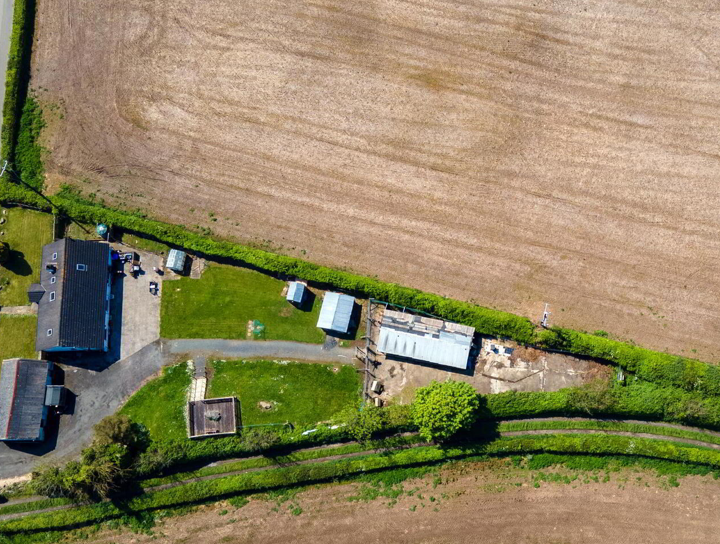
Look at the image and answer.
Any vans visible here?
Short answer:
No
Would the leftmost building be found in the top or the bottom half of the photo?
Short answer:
bottom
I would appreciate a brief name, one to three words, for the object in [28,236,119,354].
house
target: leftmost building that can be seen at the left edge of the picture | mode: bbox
[0,359,57,440]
